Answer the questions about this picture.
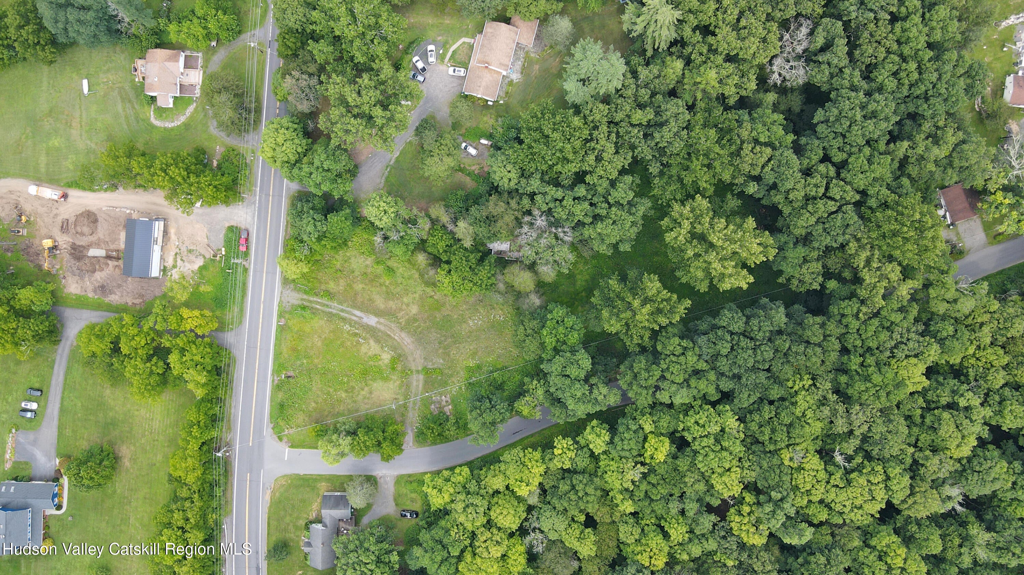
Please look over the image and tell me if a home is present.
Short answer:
Yes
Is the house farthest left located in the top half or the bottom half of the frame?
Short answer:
bottom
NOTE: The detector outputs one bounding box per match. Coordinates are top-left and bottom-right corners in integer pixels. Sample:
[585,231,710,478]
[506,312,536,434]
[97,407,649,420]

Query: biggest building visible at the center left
[124,218,166,276]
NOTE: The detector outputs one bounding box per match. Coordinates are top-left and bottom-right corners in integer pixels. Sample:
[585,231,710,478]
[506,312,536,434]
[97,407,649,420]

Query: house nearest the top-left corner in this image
[145,47,185,107]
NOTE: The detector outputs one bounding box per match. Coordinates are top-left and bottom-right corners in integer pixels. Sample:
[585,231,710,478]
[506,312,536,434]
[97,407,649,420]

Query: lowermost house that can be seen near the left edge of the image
[0,482,59,557]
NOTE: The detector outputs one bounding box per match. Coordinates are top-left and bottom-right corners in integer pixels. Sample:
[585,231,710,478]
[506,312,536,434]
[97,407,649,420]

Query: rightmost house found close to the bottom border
[303,494,351,572]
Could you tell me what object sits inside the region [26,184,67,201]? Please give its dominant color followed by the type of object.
white vehicle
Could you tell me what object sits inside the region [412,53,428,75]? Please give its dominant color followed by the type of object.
white vehicle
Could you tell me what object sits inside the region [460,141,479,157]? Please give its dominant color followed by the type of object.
white car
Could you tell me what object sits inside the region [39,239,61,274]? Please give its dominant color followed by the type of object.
yellow work vehicle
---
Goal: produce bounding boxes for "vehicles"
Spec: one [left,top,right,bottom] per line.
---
[16,409,37,420]
[448,66,467,75]
[24,388,43,397]
[412,53,428,75]
[415,71,427,83]
[400,510,418,519]
[460,141,479,157]
[12,206,28,224]
[9,228,26,236]
[238,229,248,251]
[39,239,61,274]
[26,184,67,201]
[427,44,436,64]
[19,401,39,410]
